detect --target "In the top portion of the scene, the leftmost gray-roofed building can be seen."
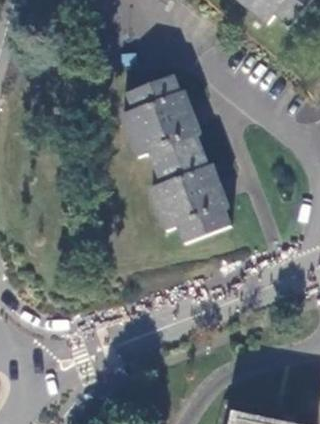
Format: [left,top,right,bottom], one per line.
[126,74,232,248]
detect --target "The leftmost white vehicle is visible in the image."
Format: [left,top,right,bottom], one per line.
[20,308,42,324]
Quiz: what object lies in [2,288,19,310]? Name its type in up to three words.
car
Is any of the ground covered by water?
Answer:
No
